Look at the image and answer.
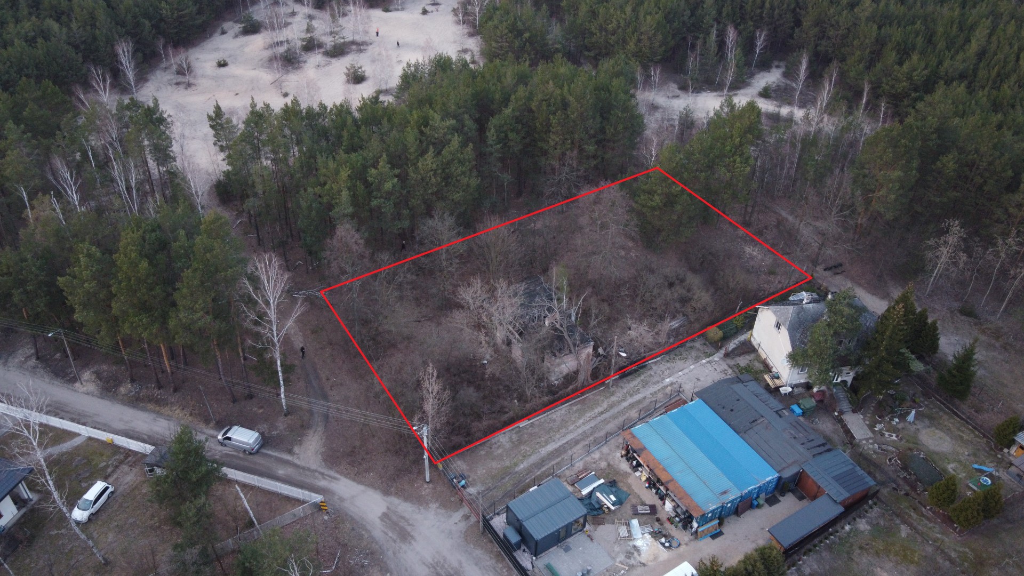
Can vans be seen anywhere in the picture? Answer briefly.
Yes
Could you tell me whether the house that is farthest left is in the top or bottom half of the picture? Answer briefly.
bottom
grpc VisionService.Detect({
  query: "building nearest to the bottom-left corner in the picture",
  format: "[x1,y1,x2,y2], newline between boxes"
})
[0,460,49,539]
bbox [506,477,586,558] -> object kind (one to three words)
building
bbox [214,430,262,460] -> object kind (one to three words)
van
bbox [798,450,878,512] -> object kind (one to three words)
shed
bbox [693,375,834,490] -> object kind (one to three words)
building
